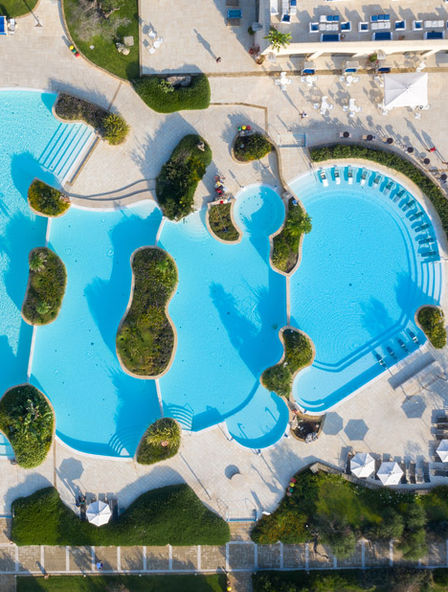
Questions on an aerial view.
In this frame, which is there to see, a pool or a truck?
pool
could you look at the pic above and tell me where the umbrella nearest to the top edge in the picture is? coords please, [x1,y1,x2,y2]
[383,73,428,108]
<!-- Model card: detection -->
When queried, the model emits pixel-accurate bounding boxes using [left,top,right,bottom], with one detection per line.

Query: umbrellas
[435,439,448,463]
[375,461,403,485]
[85,500,111,526]
[383,73,428,108]
[349,453,375,477]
